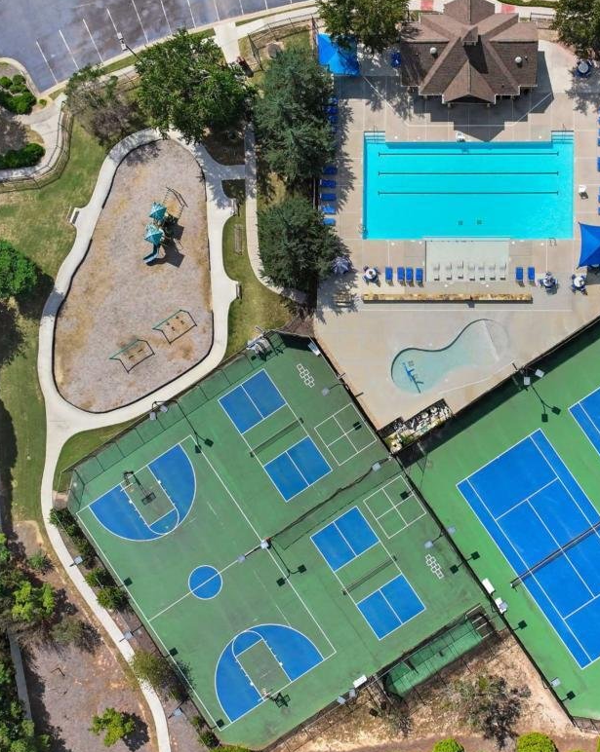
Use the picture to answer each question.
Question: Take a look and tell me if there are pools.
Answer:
Yes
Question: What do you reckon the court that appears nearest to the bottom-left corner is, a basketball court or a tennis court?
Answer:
basketball court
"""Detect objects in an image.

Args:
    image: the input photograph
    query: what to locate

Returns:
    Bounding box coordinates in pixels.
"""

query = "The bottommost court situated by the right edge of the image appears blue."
[456,427,600,670]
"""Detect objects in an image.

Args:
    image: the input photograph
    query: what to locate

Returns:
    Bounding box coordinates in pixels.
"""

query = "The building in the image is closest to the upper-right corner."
[400,0,542,111]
